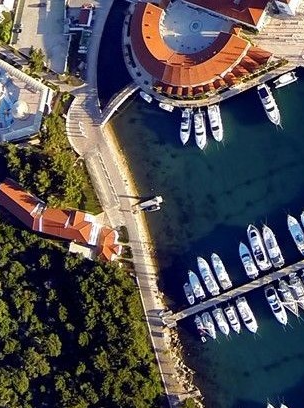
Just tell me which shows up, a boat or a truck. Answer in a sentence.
There is a boat in the scene.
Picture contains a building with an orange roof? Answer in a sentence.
Yes, there's a building with an orange roof here.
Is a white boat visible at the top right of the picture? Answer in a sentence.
Yes, I can see a white boat at the top right of the picture.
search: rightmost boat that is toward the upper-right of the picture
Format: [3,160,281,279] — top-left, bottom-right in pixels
[274,73,299,89]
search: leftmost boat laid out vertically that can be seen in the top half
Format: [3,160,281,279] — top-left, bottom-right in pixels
[180,109,193,144]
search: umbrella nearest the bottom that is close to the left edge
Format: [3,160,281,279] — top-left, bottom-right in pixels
[13,101,28,116]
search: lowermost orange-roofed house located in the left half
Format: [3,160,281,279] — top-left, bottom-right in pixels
[100,226,124,262]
